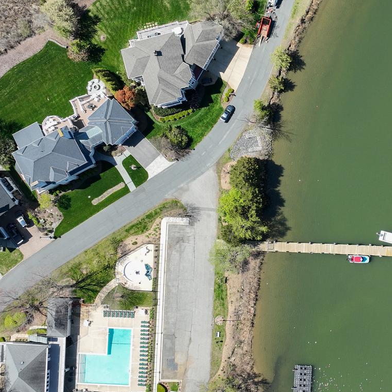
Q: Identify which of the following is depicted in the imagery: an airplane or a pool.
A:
pool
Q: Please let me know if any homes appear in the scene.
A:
Yes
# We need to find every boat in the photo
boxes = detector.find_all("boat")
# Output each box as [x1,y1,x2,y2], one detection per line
[373,231,392,244]
[342,255,369,264]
